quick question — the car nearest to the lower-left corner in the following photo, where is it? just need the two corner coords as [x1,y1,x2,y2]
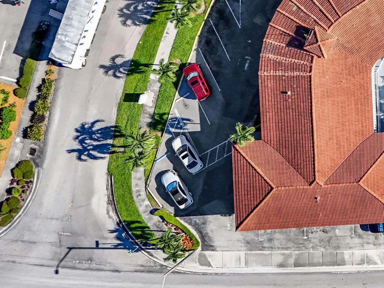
[160,168,197,212]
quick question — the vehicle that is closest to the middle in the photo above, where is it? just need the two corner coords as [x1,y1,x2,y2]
[171,134,207,177]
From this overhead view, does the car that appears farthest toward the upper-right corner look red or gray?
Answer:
red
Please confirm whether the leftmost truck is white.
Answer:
Yes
